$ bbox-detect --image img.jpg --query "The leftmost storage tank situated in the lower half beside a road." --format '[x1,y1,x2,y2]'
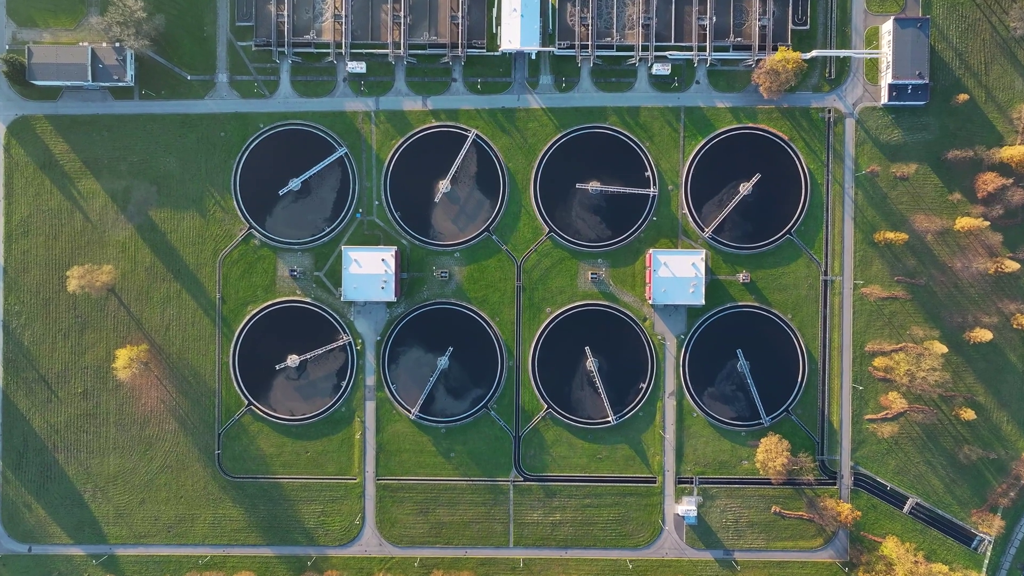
[229,296,359,426]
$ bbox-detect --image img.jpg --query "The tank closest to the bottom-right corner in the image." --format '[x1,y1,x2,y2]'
[678,301,809,432]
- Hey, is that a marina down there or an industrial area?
industrial area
